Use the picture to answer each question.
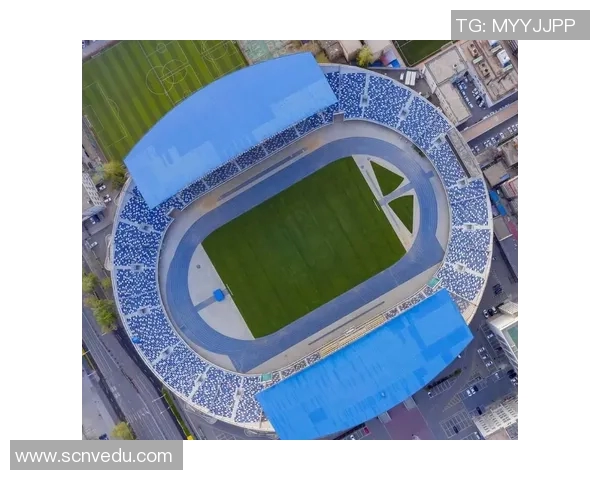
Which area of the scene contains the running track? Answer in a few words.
center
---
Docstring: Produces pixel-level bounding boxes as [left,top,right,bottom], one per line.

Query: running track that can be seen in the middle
[167,135,449,372]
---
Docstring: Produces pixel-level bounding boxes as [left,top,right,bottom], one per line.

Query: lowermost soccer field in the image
[200,156,407,338]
